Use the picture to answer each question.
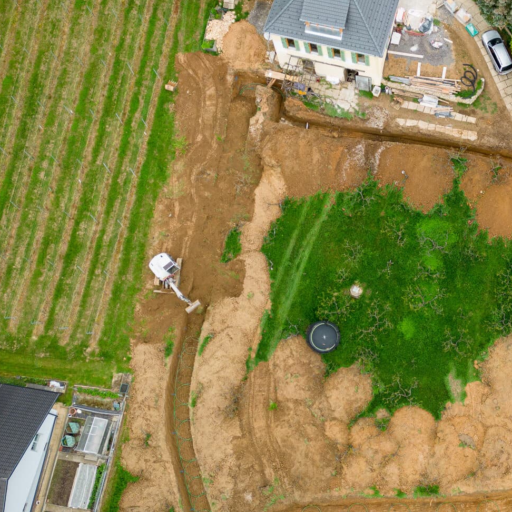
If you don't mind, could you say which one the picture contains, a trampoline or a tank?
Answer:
trampoline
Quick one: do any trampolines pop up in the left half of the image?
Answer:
No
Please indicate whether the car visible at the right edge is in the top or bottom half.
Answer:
top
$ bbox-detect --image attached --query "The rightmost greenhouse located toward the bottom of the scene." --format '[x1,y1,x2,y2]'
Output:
[74,417,107,454]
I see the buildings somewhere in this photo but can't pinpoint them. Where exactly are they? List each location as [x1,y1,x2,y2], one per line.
[259,0,399,88]
[0,381,63,512]
[74,417,107,454]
